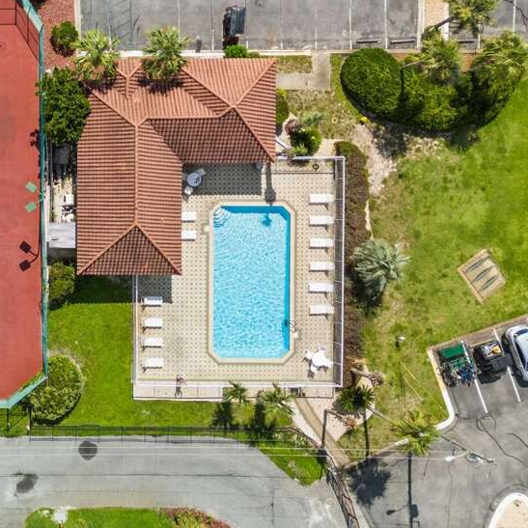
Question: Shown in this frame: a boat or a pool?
pool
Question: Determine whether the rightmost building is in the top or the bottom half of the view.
top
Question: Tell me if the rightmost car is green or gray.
gray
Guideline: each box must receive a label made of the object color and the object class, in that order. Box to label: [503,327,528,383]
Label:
gray car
